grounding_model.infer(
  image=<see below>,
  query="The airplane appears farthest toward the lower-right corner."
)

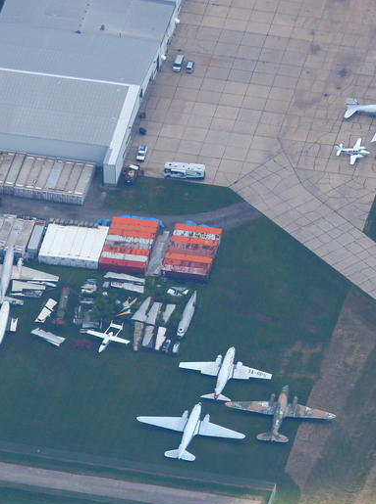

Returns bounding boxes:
[224,386,337,442]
